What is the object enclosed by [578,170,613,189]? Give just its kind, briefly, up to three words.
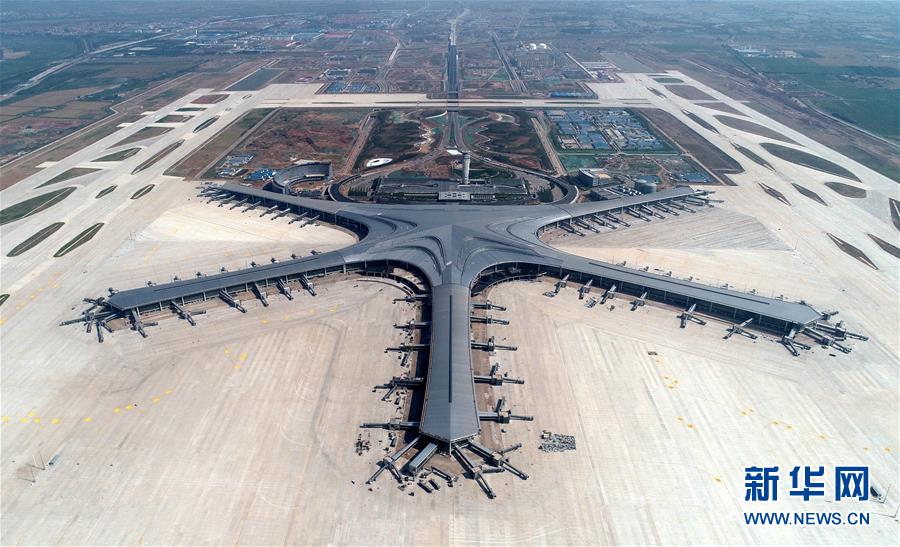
building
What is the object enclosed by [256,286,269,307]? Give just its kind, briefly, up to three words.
jet bridge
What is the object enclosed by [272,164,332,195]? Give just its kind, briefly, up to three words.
building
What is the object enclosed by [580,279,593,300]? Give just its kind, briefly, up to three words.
jet bridge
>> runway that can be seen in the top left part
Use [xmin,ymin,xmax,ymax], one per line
[0,89,213,207]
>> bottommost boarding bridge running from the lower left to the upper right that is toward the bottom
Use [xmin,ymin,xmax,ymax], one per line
[366,433,423,485]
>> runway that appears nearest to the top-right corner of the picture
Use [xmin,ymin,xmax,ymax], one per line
[667,70,900,198]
